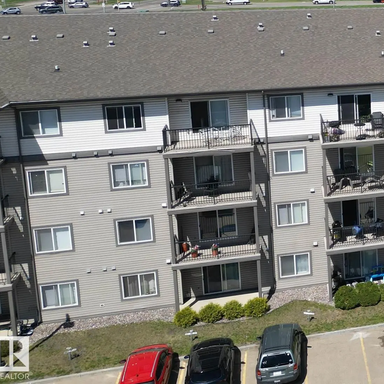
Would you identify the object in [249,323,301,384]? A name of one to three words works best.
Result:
car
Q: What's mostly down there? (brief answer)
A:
buildings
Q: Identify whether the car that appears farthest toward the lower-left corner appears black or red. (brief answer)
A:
red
